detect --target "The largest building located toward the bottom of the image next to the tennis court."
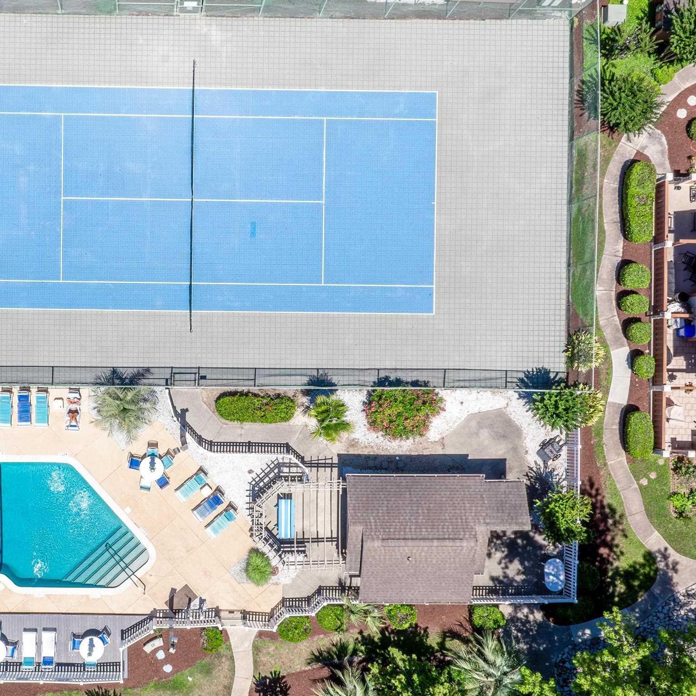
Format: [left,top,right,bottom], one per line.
[345,471,530,607]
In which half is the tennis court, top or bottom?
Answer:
top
